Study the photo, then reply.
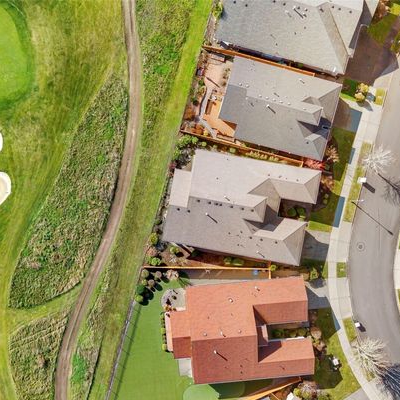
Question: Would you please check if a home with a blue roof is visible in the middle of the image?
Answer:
No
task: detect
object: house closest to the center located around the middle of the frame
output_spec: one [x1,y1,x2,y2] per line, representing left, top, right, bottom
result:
[162,149,321,266]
